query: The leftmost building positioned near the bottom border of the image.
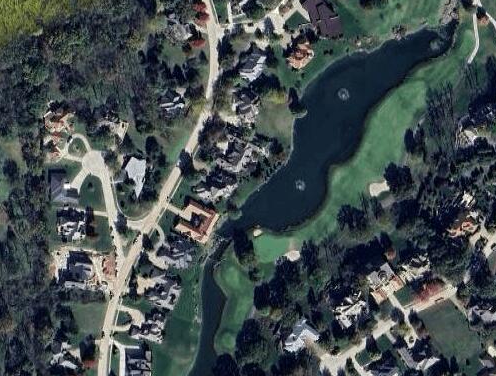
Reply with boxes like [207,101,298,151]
[49,340,80,375]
